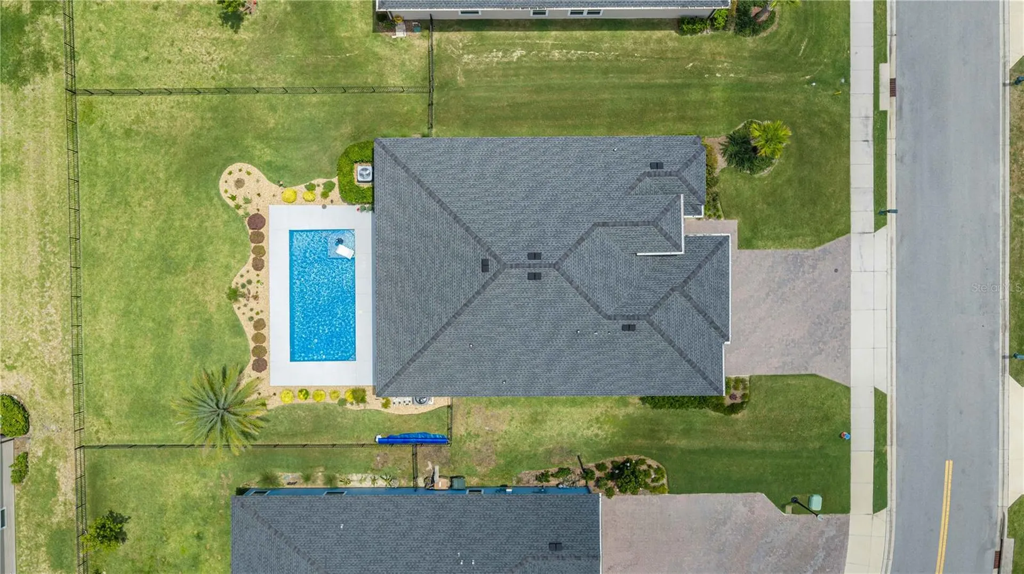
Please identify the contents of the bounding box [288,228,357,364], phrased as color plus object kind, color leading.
blue swimming pool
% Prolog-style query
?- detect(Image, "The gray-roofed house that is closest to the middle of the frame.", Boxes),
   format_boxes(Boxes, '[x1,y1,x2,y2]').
[374,135,728,397]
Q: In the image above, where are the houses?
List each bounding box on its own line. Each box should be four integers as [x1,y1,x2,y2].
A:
[230,488,601,574]
[375,0,731,23]
[374,135,728,397]
[0,438,16,574]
